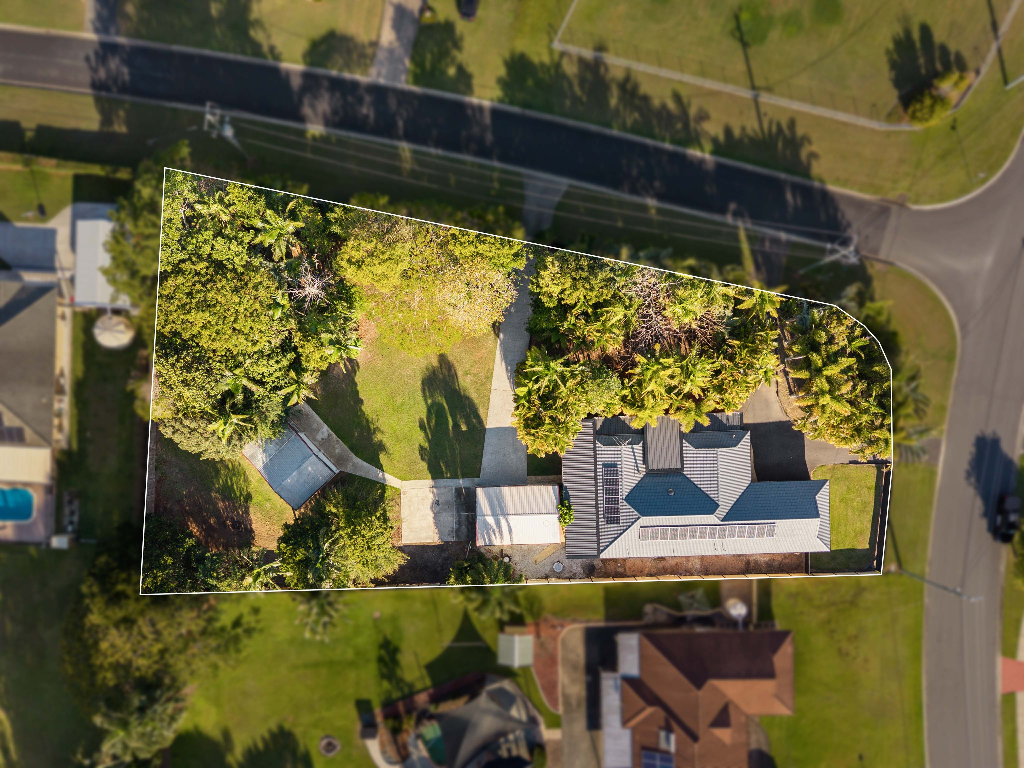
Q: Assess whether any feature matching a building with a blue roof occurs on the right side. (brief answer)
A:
No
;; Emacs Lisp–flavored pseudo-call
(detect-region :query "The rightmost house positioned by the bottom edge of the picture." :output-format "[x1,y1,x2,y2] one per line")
[601,627,794,768]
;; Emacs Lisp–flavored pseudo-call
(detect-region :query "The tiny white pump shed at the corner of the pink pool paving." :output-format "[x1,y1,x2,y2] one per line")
[50,533,76,550]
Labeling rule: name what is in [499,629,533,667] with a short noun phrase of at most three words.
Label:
shed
